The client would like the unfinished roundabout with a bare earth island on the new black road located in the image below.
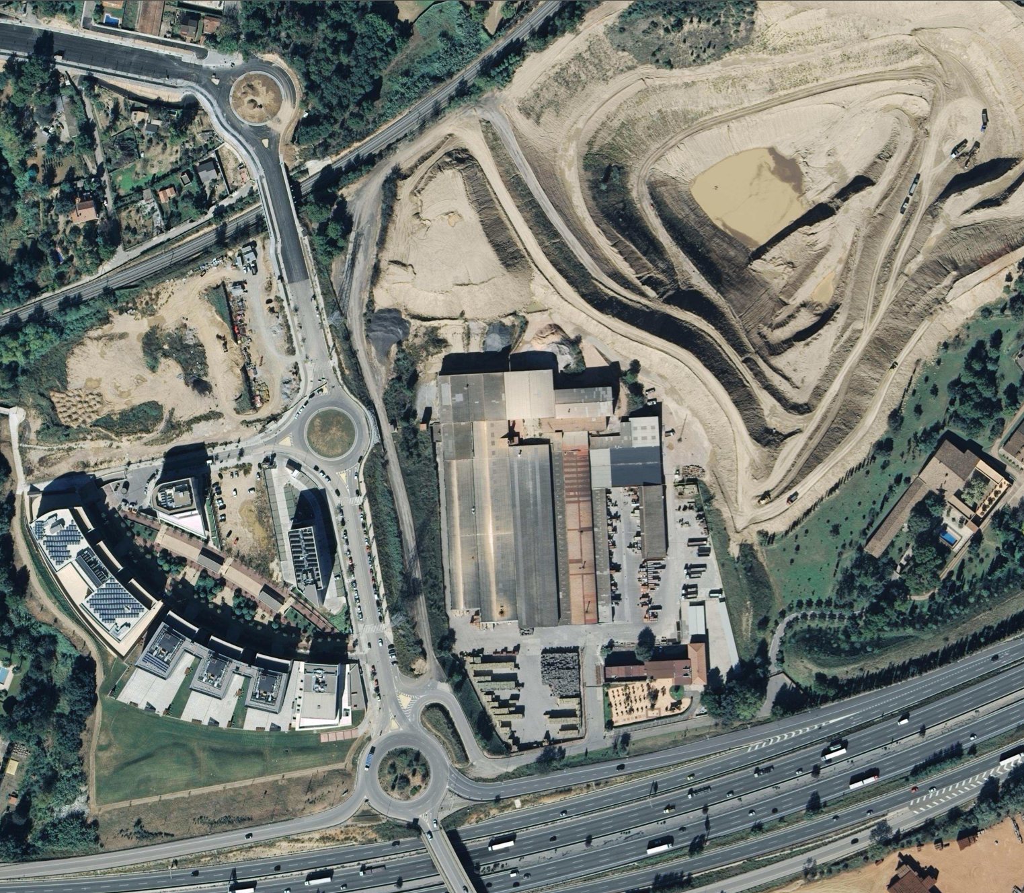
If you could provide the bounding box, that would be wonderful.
[219,60,295,137]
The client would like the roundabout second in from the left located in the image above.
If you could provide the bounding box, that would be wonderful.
[291,393,369,472]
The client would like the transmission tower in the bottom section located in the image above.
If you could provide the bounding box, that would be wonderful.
[392,611,407,629]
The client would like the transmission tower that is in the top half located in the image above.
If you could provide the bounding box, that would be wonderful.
[328,311,343,329]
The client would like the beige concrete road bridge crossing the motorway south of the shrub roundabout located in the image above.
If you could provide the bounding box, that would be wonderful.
[417,822,477,893]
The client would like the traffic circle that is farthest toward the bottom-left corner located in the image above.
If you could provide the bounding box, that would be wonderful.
[360,730,449,823]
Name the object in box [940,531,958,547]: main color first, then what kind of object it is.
blue swimming pool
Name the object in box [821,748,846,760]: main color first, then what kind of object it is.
white vehicle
